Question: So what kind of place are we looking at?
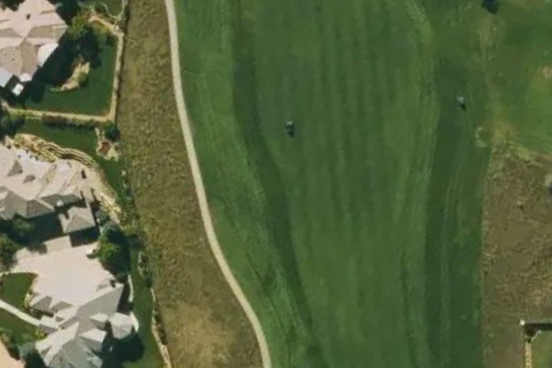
golf course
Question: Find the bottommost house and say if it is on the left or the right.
left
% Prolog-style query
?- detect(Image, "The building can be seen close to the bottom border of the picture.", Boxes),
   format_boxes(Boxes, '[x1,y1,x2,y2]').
[31,266,137,368]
